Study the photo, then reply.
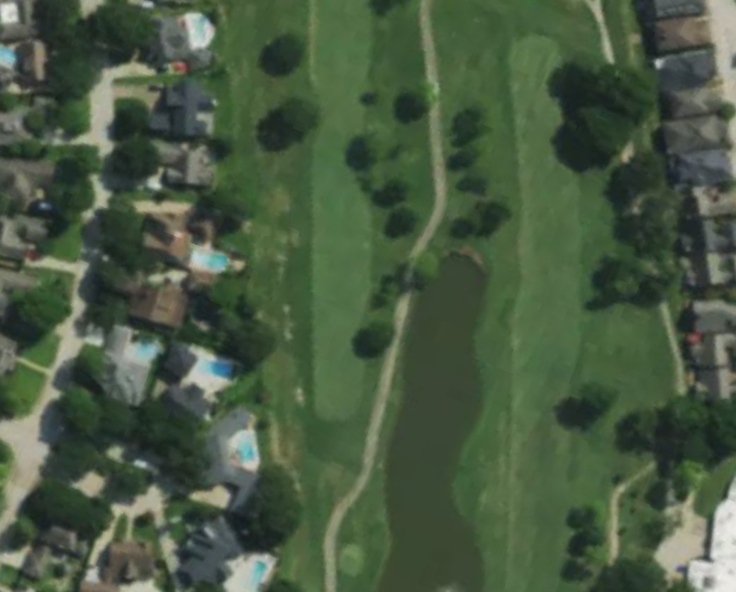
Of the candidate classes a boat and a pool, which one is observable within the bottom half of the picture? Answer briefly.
pool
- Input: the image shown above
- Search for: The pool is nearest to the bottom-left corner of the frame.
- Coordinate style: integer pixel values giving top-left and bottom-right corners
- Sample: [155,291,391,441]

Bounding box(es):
[224,552,277,592]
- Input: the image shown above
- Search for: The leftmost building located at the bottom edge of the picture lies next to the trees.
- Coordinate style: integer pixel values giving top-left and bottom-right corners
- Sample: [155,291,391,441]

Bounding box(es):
[21,527,92,583]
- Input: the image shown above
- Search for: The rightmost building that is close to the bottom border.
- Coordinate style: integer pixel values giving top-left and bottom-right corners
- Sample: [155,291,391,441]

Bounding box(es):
[688,480,736,592]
